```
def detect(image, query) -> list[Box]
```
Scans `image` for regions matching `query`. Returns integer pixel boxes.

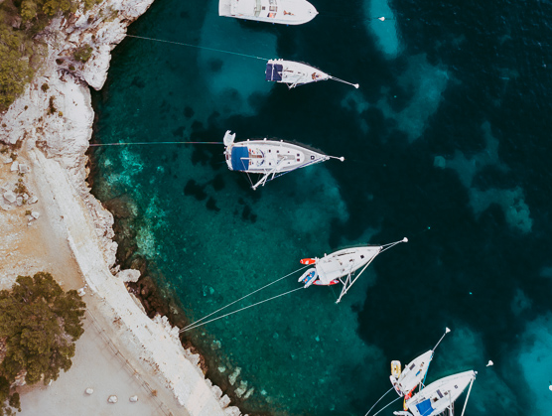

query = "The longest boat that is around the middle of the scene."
[224,139,331,192]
